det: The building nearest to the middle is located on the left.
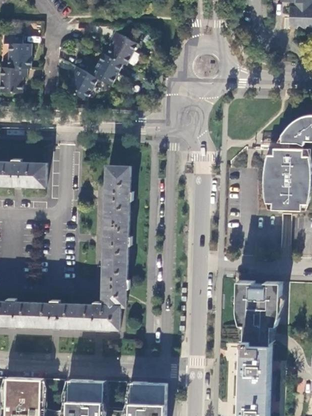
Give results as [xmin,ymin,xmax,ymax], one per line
[100,166,137,310]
